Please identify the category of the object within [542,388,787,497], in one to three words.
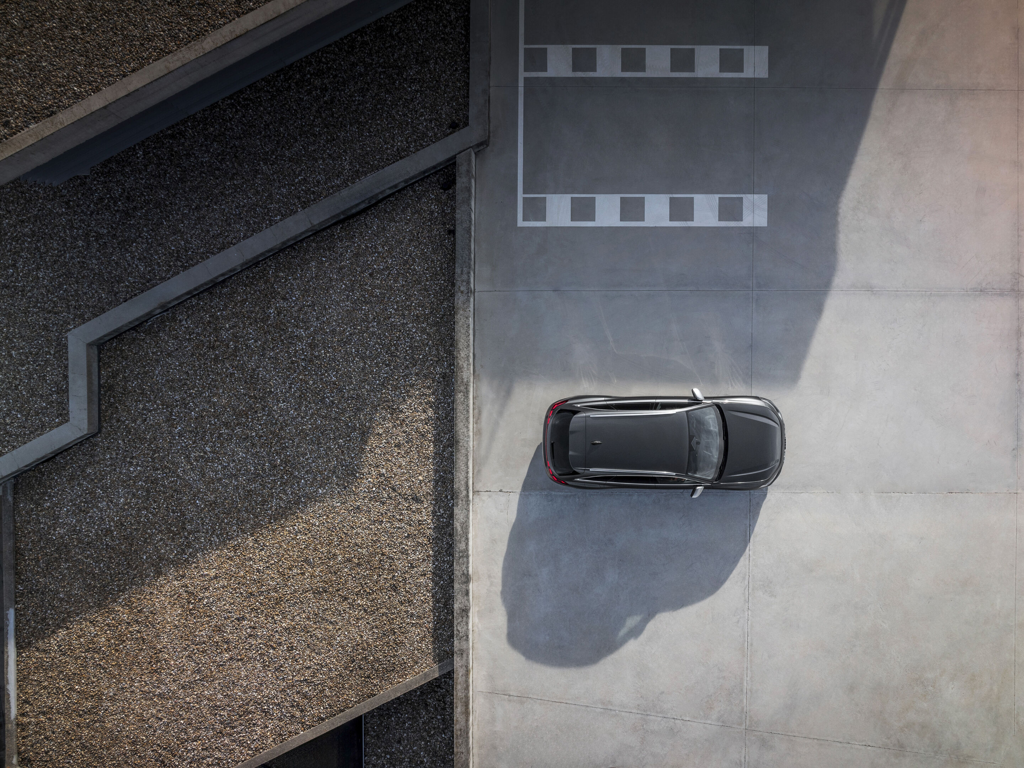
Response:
car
